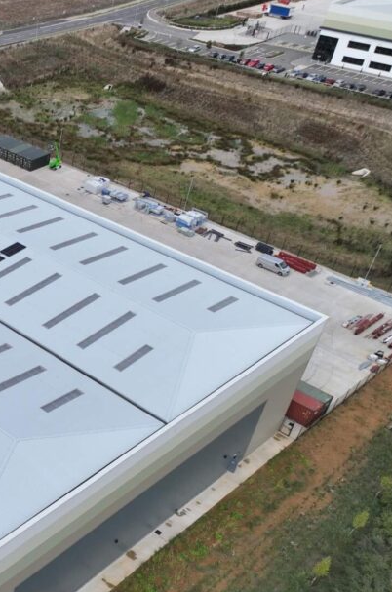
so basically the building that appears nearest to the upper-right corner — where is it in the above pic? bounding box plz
[310,0,392,78]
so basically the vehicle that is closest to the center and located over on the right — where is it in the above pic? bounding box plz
[256,253,292,275]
